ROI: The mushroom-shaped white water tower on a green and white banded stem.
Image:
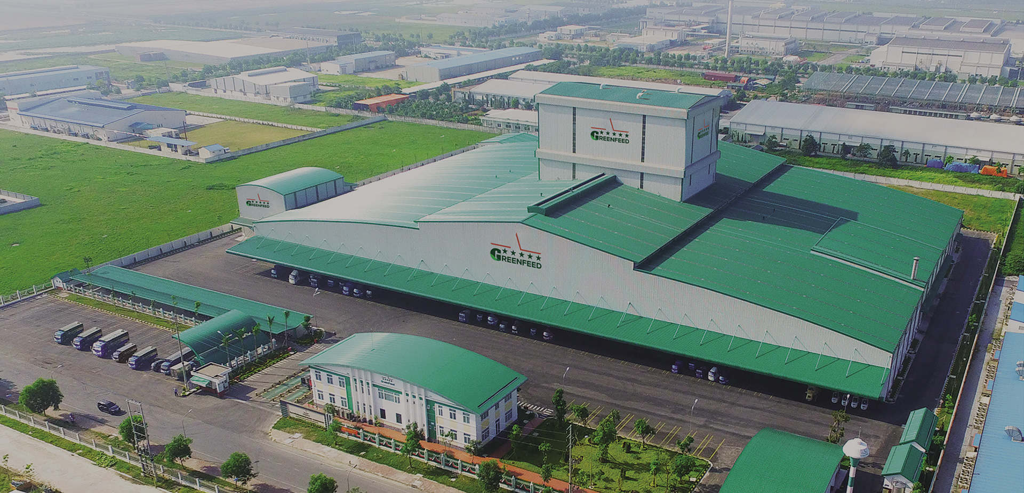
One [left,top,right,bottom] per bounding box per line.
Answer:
[840,431,872,493]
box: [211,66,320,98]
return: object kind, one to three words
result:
building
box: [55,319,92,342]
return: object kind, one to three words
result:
bus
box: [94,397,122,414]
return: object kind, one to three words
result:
car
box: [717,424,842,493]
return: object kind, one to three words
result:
shed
